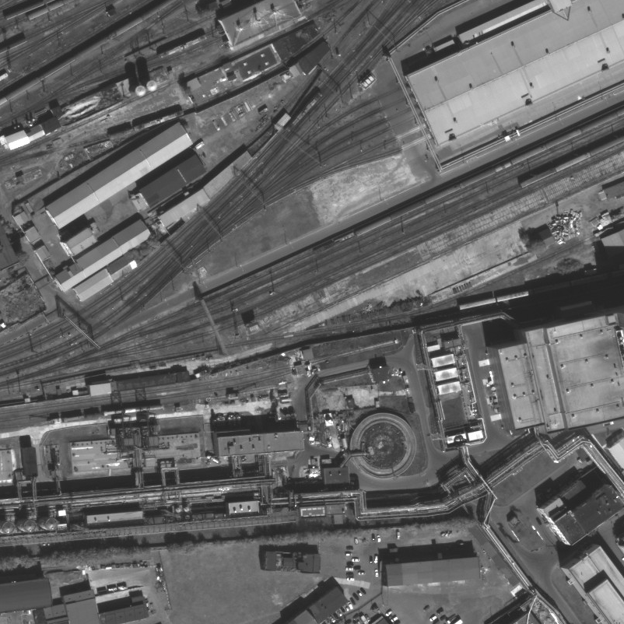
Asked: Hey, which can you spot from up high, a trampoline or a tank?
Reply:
tank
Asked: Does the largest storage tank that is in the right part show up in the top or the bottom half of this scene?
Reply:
bottom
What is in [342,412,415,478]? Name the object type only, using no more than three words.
storage tank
